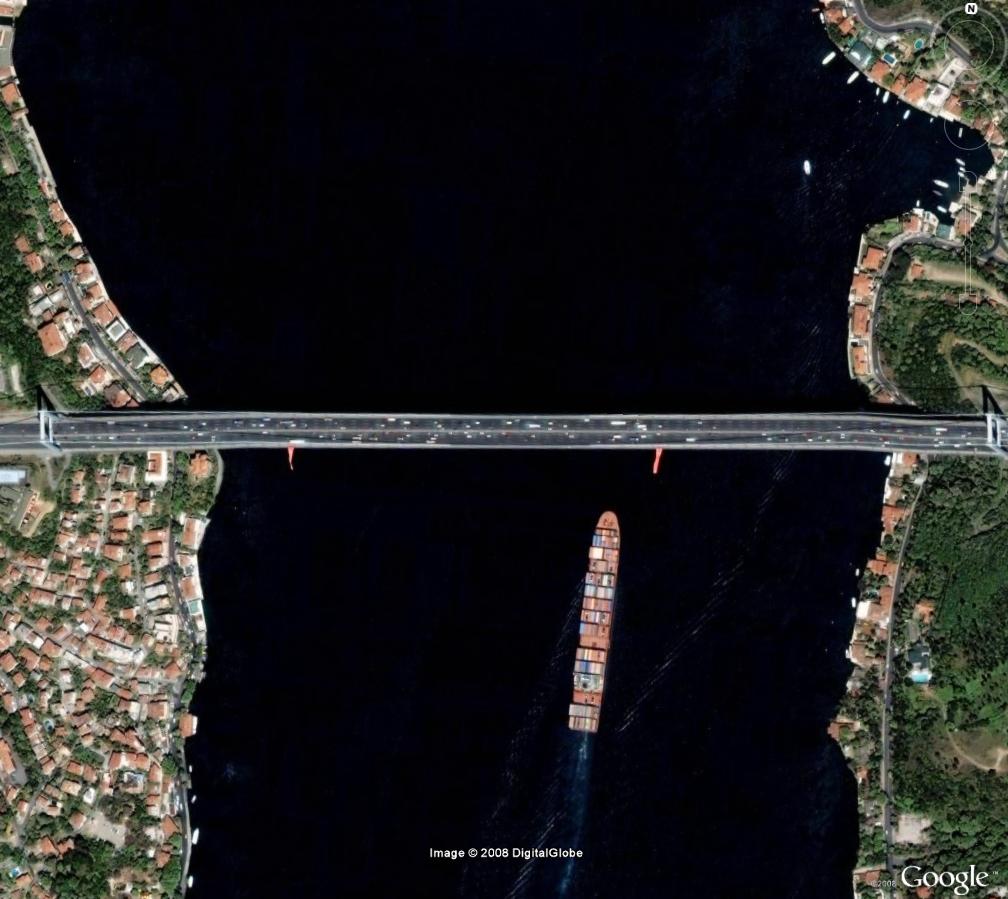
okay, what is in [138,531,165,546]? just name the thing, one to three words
house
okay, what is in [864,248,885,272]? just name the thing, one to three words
house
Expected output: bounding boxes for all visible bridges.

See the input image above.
[0,410,1008,463]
